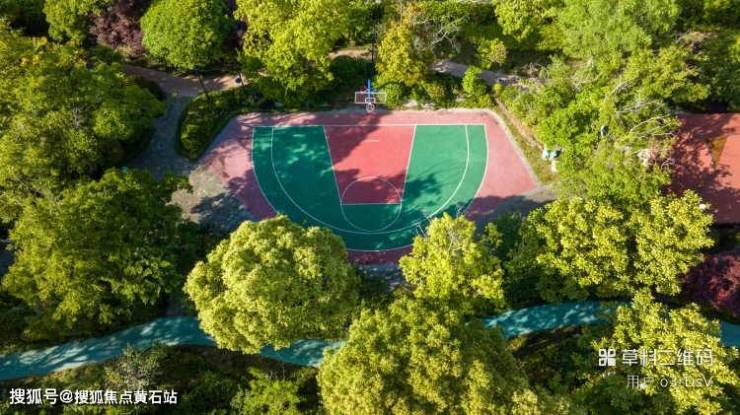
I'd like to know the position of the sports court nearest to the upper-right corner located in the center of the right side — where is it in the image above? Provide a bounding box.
[634,112,740,224]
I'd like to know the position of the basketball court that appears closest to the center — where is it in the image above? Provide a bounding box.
[206,107,542,264]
